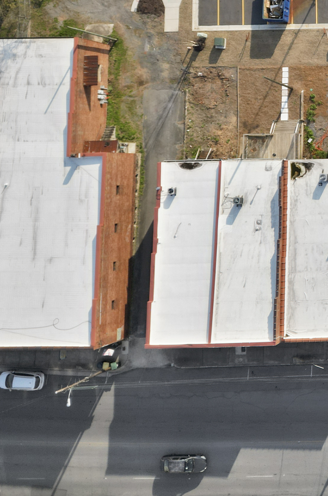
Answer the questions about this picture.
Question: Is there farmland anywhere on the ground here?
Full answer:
No, the scene doesn't show any farmland.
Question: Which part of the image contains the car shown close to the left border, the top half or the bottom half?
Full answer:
The car shown close to the left border sits in the bottom half of the picture.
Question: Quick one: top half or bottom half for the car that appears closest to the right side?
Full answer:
It is in the bottom half that the car that appears closest to the right side appears.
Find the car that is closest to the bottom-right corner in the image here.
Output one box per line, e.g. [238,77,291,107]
[161,451,209,475]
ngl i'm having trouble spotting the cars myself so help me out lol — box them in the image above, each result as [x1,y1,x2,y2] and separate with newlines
[0,369,47,391]
[161,451,209,475]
